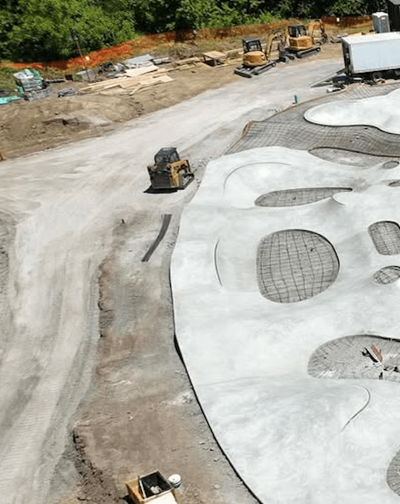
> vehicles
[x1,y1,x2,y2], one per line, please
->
[144,144,192,194]
[232,28,280,79]
[282,7,329,58]
[314,30,400,85]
